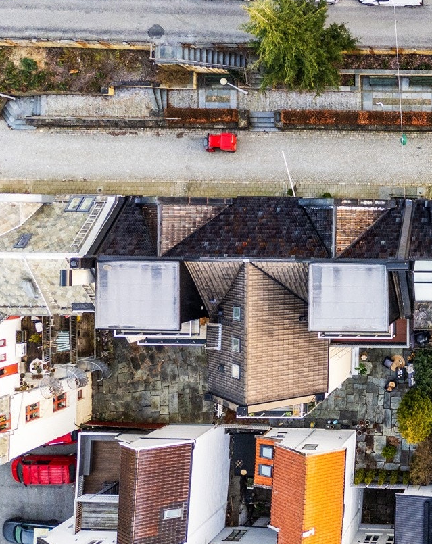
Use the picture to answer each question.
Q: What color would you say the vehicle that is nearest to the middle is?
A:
red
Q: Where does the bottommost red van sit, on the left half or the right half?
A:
left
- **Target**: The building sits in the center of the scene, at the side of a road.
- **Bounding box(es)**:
[84,194,416,418]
